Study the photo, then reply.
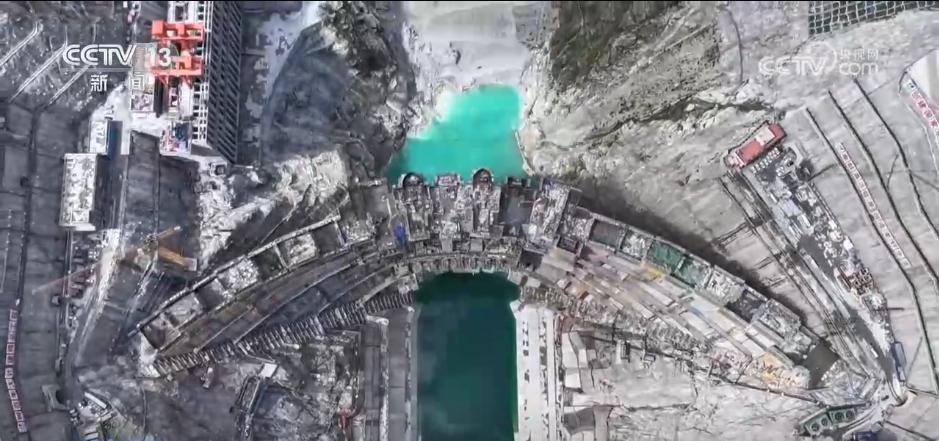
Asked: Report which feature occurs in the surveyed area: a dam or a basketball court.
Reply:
dam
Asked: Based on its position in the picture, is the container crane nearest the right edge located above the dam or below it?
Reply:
above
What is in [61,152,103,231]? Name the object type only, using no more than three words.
building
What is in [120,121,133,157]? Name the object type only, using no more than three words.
shed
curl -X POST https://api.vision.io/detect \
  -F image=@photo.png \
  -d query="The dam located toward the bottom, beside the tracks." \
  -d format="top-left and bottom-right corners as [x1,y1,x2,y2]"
[139,166,831,391]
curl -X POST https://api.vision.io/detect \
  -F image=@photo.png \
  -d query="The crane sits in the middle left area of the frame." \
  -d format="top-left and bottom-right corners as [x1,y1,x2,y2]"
[32,224,199,292]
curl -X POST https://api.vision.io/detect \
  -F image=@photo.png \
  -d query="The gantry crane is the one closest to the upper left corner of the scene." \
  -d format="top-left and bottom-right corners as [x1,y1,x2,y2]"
[151,20,209,80]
